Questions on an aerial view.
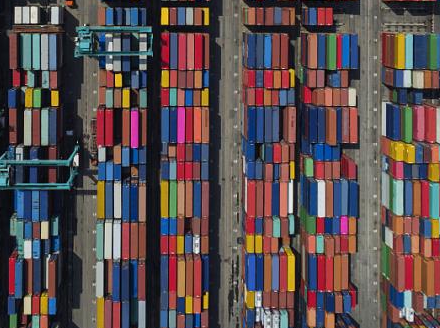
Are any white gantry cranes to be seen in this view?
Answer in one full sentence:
No, I find no white gantry crane anywhere in the image.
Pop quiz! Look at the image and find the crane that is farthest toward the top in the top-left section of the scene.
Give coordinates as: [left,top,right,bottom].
[72,22,158,55]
